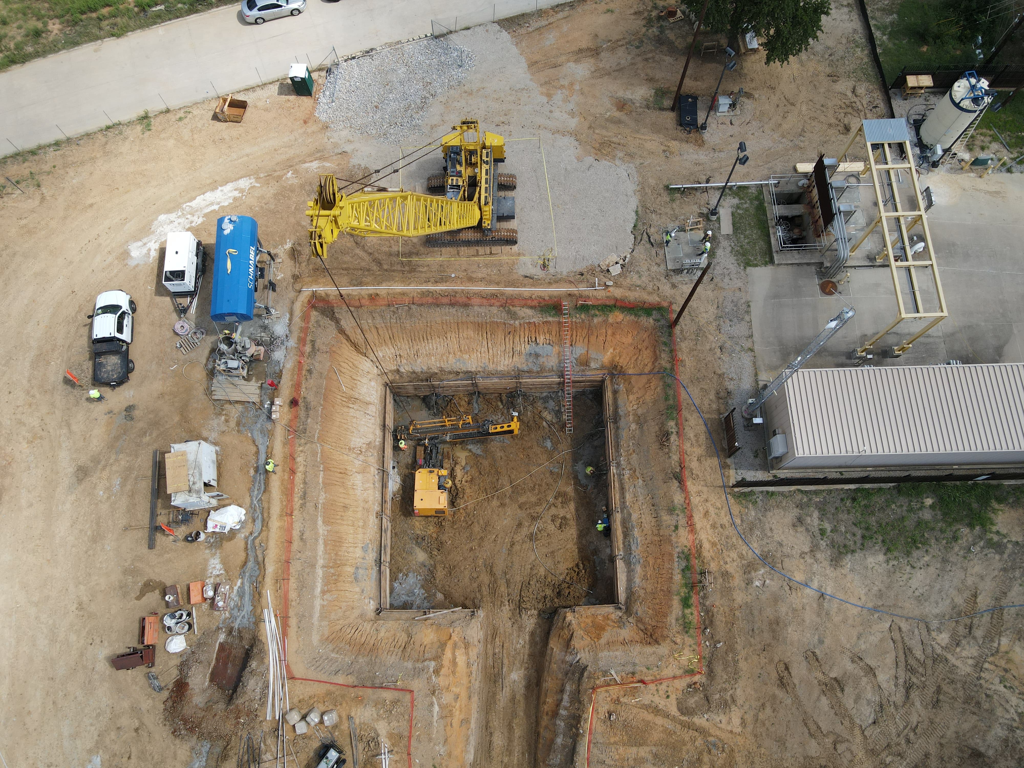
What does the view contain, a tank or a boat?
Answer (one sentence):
The image shows a tank.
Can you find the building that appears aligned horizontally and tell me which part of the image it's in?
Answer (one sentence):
The building that appears aligned horizontally is located in the right region of the scene.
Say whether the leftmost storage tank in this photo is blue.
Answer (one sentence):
Yes, blue is the color of the leftmost storage tank.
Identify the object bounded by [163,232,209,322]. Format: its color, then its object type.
white trailer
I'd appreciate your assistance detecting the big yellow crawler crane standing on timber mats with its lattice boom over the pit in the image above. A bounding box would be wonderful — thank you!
[304,115,518,486]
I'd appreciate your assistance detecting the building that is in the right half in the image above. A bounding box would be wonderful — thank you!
[754,358,1024,477]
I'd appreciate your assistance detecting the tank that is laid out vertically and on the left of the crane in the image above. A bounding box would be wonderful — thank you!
[215,213,275,342]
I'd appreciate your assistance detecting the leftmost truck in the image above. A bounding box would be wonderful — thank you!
[83,287,134,385]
